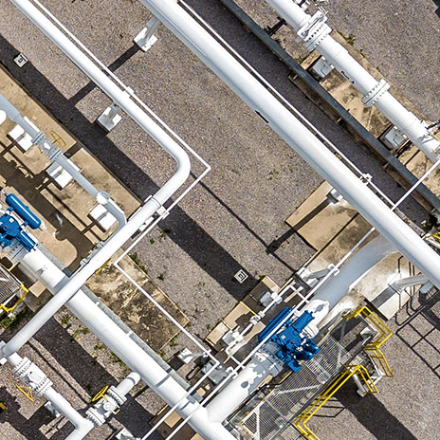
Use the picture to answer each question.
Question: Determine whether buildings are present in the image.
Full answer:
No, no building is visible in the scene.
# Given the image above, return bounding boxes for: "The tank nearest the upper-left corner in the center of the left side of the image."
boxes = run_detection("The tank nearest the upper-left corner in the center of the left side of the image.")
[0,191,43,230]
